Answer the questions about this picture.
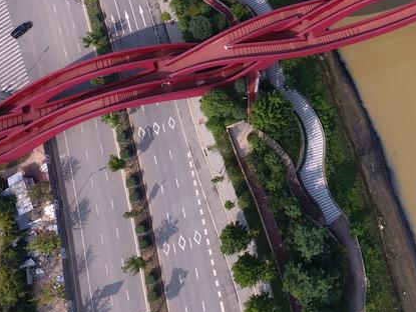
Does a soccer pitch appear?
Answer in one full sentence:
No, the picture doesn't show any soccer pitch.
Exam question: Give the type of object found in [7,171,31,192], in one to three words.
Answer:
shed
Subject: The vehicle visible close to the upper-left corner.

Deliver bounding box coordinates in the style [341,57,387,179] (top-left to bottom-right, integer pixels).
[11,20,32,39]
